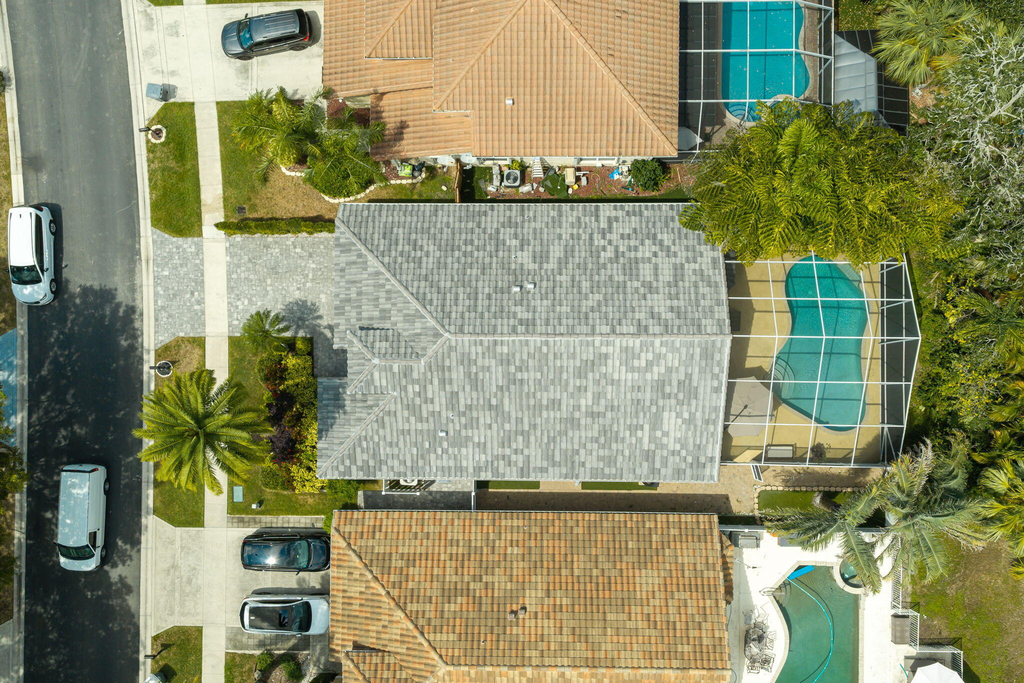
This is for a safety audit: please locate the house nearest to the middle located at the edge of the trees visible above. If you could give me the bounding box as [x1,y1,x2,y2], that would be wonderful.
[316,201,733,482]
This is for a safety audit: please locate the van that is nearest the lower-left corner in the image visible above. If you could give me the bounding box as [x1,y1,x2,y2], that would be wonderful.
[52,465,107,572]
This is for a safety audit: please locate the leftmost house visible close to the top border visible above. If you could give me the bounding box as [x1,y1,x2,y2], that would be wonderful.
[321,0,681,166]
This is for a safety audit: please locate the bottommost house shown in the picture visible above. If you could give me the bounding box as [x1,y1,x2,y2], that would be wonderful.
[327,509,735,683]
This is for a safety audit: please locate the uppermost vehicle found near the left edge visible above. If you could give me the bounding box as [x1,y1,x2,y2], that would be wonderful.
[5,205,55,304]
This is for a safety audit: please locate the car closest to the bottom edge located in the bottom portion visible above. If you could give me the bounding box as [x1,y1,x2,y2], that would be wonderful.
[237,593,328,637]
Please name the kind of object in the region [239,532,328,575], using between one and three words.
car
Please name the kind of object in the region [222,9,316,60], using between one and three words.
car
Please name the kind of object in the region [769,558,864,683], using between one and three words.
swimming pool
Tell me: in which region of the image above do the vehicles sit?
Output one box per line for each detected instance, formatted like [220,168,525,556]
[52,465,107,572]
[237,593,328,637]
[222,9,316,60]
[239,532,328,575]
[5,205,55,304]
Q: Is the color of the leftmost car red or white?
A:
white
